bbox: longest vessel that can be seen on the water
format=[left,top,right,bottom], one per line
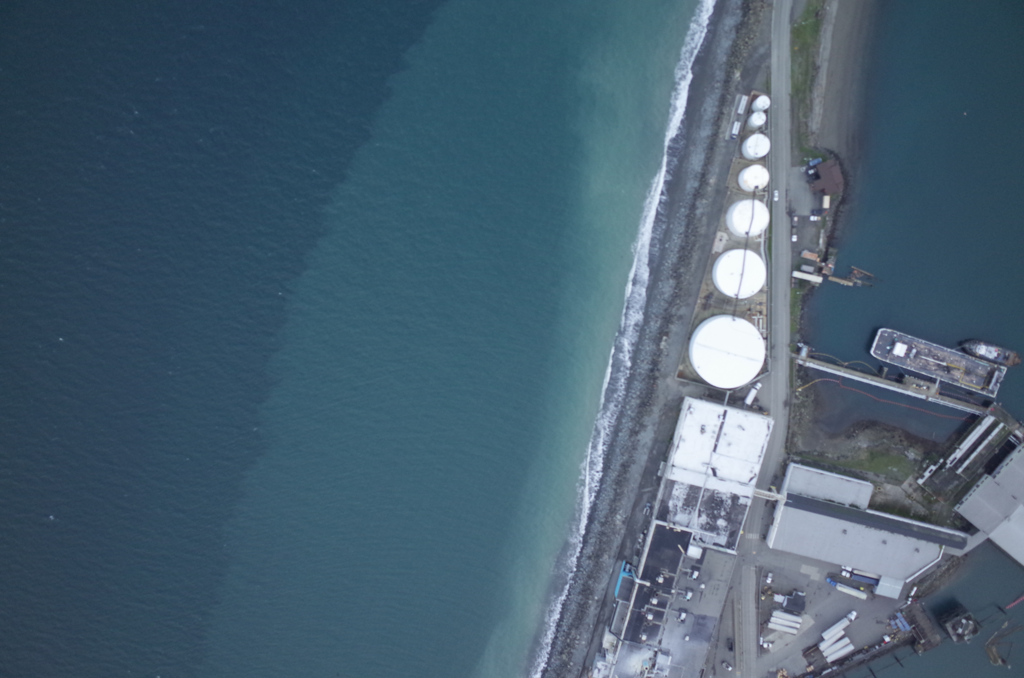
[869,328,1007,397]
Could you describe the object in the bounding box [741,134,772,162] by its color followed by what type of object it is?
white storage tank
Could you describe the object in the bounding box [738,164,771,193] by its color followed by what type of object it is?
white storage tank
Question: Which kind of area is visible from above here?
port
